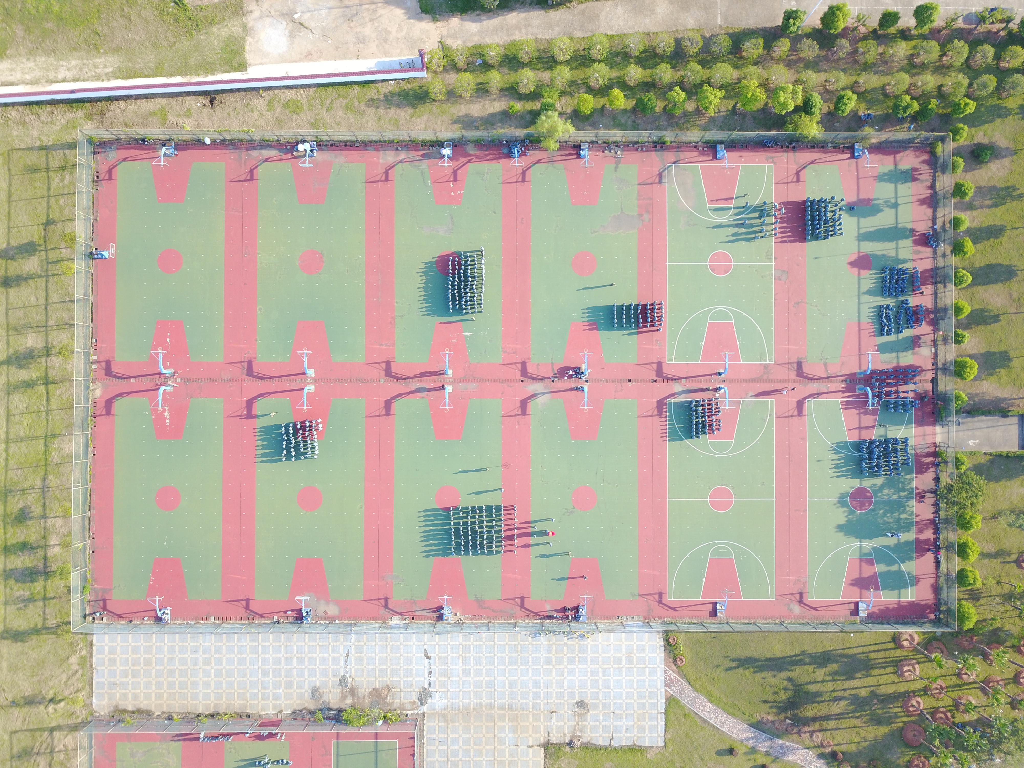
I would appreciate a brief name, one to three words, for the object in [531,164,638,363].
basketball court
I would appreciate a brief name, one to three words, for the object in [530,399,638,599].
basketball court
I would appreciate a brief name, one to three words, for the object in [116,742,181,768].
sports court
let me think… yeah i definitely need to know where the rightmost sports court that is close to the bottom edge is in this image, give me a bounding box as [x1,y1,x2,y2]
[332,739,398,768]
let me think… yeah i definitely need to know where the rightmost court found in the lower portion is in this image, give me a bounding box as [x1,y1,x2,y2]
[807,399,915,600]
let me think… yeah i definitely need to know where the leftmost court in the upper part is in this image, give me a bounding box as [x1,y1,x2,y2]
[115,162,225,362]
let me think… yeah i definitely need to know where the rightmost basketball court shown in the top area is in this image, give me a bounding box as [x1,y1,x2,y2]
[806,165,913,363]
